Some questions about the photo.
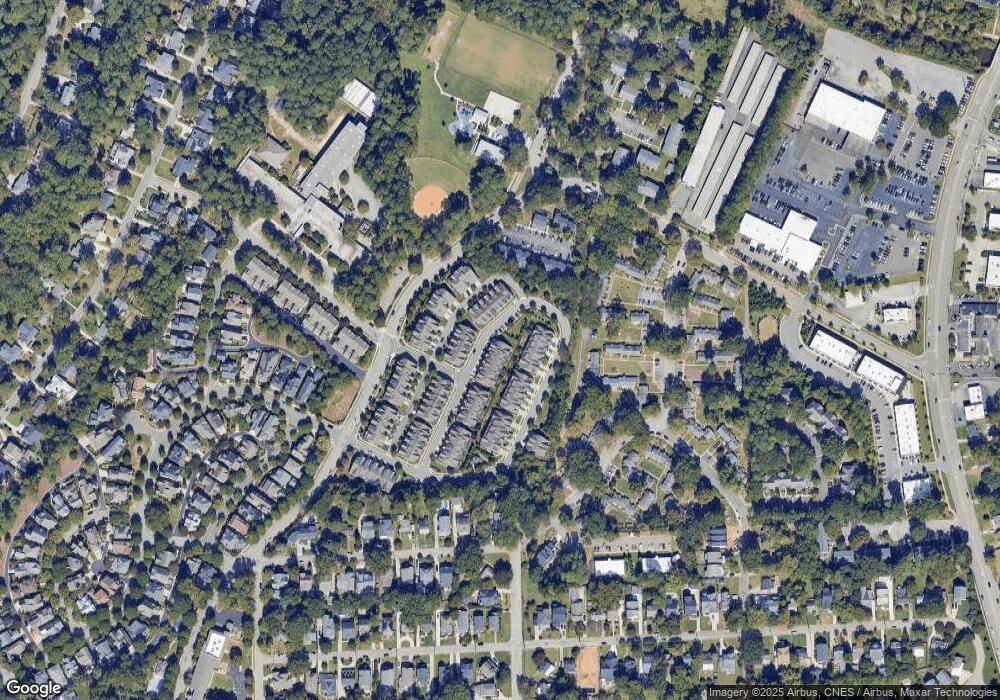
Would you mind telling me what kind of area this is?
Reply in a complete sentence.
This looks like a residential area.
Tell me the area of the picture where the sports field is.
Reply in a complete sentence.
The sports field is located in the top region of the scene.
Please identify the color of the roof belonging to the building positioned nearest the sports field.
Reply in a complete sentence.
The color of the roof on the building positioned nearest the sports field is white.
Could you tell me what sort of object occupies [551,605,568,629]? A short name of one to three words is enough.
house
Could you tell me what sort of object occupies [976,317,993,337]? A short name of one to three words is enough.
building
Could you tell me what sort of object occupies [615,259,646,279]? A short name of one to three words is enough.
building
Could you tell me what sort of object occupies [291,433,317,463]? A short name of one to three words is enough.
house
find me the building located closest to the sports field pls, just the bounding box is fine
[484,92,521,123]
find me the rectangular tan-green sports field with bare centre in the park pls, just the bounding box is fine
[446,14,556,102]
